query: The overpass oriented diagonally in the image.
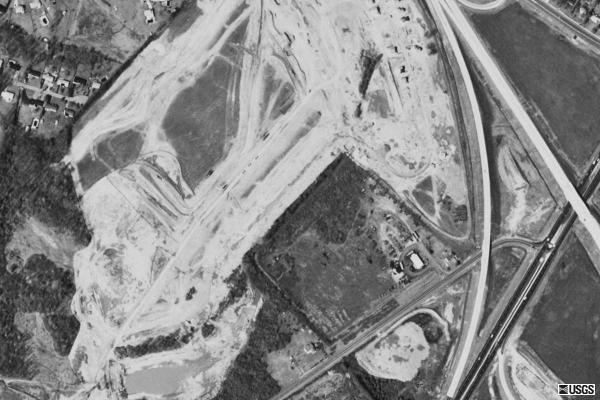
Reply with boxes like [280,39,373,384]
[555,174,600,233]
